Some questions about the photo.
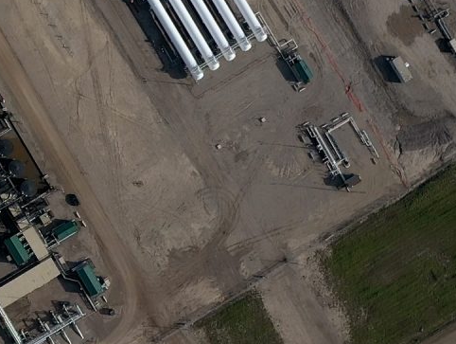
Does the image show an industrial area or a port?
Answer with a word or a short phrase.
industrial area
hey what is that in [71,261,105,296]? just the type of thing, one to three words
building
